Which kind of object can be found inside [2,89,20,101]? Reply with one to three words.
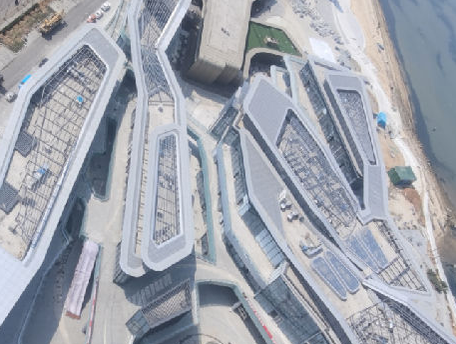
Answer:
vehicle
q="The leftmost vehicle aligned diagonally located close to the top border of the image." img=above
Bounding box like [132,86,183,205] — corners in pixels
[39,7,68,31]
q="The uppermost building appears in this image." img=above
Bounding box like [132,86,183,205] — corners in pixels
[183,0,252,90]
